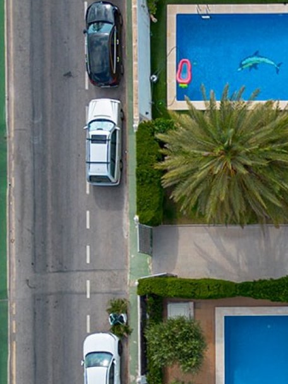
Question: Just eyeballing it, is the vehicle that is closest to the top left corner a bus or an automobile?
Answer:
automobile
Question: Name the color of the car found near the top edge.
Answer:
black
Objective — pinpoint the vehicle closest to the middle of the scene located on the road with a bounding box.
[79,98,129,187]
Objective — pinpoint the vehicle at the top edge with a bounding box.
[79,1,129,89]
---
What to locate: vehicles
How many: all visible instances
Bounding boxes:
[79,98,129,187]
[79,1,129,89]
[78,332,128,384]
